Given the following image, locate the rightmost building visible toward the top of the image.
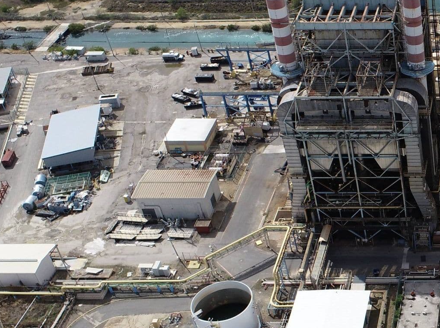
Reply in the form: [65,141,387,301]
[279,0,440,237]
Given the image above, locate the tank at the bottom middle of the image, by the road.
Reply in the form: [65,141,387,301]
[185,279,261,328]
